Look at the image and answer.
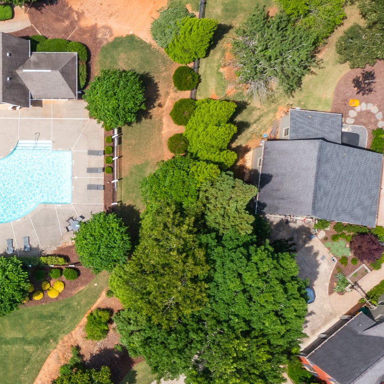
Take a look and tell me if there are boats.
No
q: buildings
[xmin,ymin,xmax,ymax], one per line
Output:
[0,32,79,113]
[298,299,384,384]
[247,109,384,228]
